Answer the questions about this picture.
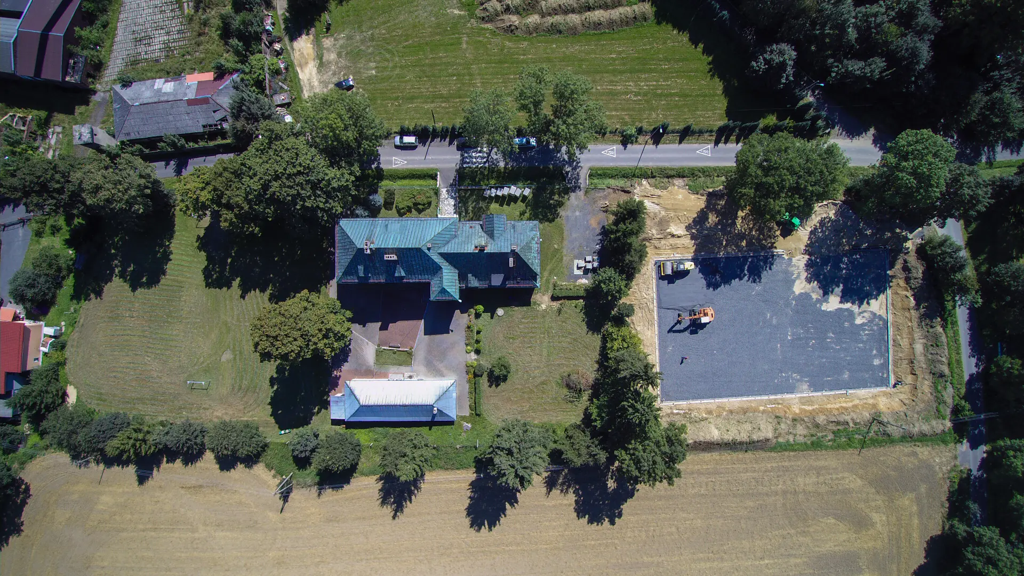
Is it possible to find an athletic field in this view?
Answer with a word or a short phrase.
Yes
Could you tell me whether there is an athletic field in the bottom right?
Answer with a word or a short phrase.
No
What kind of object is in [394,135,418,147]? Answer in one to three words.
vehicle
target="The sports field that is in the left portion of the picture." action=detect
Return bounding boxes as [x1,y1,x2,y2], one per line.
[66,193,340,428]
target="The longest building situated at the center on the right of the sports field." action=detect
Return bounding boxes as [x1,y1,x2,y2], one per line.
[336,214,542,302]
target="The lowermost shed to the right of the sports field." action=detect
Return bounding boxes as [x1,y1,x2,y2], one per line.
[331,372,457,422]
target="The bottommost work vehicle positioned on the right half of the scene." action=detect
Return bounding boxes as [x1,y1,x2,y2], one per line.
[677,310,715,326]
